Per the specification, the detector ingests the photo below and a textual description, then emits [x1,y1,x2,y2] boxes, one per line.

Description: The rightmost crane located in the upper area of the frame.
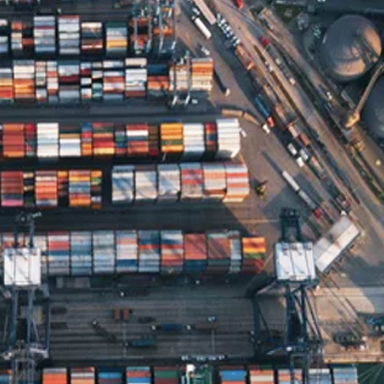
[168,51,191,108]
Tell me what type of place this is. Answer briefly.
industrial area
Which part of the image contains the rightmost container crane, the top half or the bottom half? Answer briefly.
bottom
